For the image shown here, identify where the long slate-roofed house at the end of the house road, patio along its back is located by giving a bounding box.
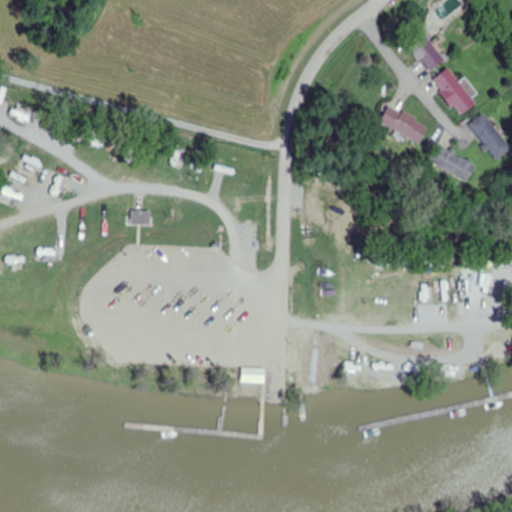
[468,114,506,159]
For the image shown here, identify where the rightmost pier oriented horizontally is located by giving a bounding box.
[432,392,512,414]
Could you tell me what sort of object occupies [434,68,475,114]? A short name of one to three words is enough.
house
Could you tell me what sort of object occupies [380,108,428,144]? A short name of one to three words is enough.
house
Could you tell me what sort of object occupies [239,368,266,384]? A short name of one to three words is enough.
building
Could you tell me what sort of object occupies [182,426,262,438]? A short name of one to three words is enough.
pier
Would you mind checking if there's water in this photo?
Yes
